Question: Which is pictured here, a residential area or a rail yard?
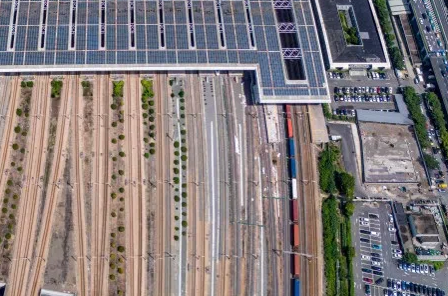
rail yard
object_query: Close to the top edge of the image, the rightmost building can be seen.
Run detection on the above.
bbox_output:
[311,0,392,73]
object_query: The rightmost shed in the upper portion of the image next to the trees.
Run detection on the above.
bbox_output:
[356,94,414,126]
